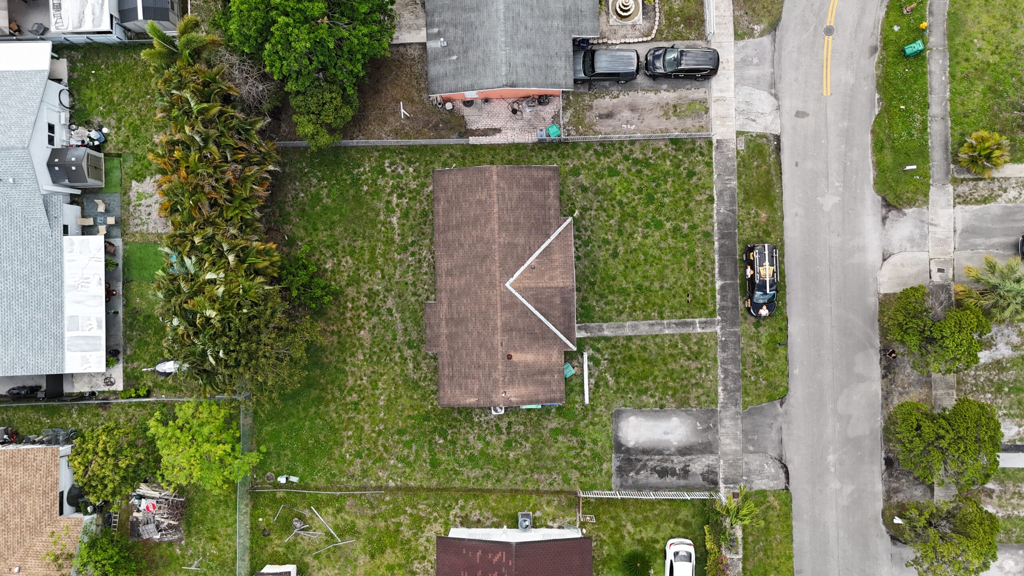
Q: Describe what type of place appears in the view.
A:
residential area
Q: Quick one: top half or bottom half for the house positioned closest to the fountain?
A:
top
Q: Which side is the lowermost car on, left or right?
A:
right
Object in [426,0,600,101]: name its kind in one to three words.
house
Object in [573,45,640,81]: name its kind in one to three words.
car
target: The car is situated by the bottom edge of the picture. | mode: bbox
[667,541,697,576]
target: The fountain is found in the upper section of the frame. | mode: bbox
[610,0,643,28]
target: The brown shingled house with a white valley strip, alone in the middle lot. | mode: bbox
[424,164,577,407]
